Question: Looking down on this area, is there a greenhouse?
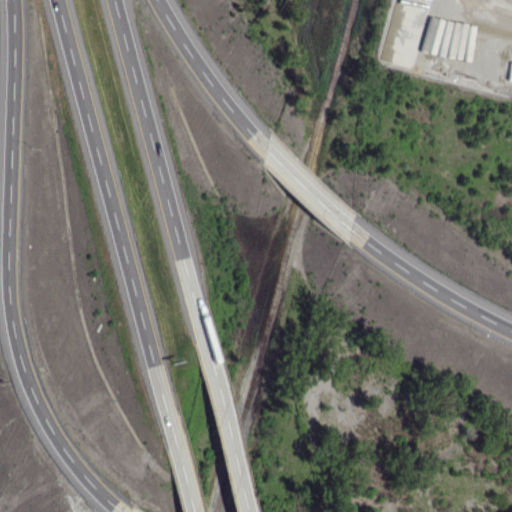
No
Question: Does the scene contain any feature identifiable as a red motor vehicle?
No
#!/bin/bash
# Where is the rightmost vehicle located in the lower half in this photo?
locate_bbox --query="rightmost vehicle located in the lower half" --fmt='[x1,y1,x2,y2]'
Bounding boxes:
[198,298,224,363]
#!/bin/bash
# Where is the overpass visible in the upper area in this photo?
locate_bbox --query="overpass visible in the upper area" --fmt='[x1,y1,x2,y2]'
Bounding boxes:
[258,138,364,240]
